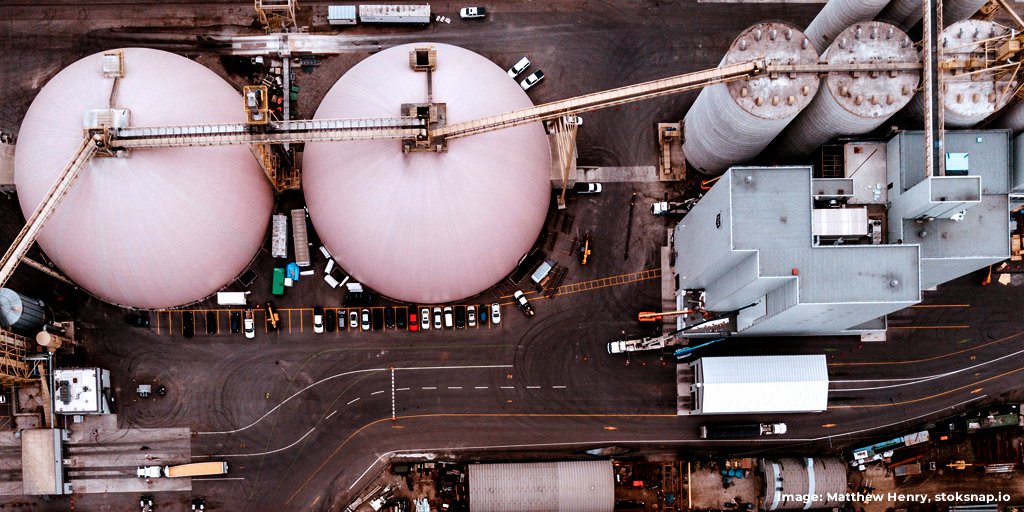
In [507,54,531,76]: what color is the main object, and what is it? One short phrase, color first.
white vehicle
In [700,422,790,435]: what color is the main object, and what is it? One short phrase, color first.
black vehicle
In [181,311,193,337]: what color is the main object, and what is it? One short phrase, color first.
black vehicle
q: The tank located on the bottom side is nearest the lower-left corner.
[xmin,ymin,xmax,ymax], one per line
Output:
[0,287,47,333]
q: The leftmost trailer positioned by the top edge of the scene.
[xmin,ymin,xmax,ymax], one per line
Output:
[328,6,357,30]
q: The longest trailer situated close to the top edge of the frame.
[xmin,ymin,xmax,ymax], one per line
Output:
[360,6,431,29]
